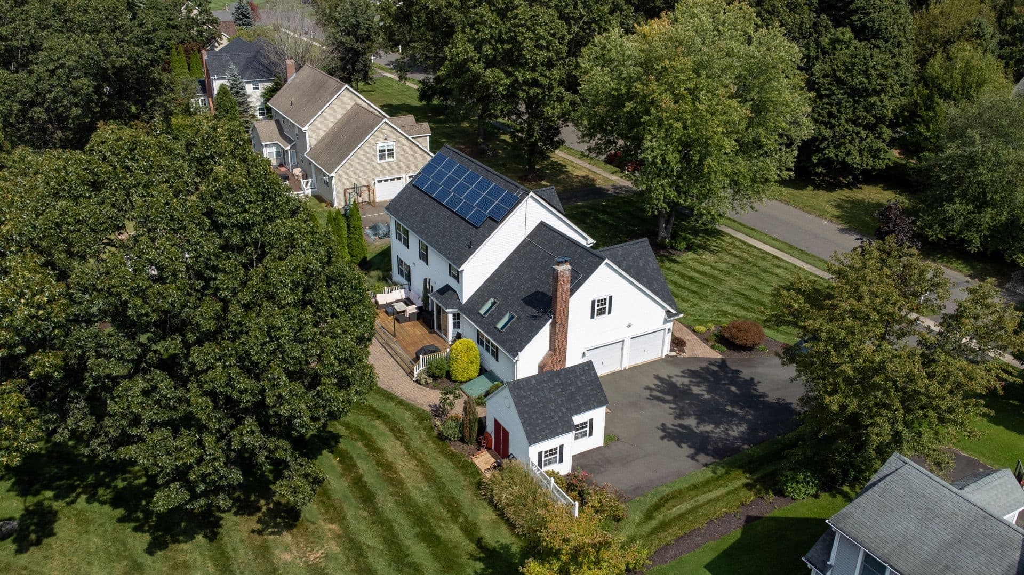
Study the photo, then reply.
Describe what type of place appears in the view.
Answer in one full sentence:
The picture captures a residential area.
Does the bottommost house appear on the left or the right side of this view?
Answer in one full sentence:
The bottommost house appears in the right half of the scene.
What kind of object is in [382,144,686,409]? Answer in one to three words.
house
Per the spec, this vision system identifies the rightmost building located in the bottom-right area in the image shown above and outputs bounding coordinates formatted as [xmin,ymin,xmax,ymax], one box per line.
[796,449,1024,575]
